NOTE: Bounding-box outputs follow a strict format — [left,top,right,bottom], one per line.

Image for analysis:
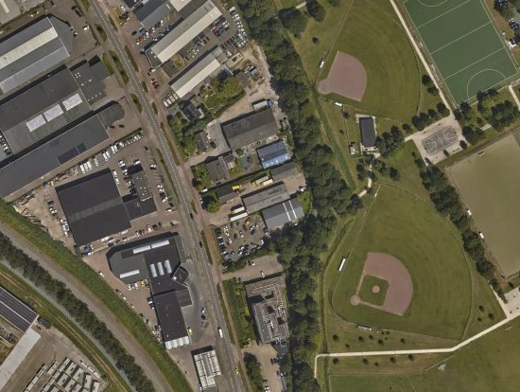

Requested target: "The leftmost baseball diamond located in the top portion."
[317,0,422,116]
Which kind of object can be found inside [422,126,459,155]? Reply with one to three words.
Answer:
basketball court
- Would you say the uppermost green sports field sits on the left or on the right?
right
